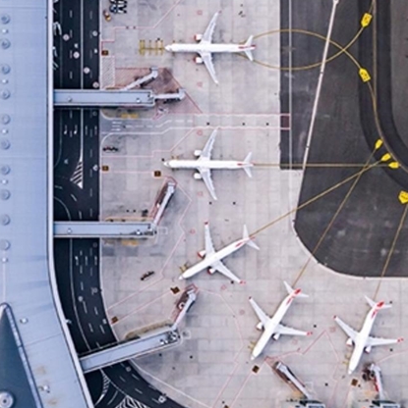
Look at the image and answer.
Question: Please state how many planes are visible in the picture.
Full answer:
My tally gives 5 planes in this view.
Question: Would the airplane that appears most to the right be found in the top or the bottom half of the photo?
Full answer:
It is in the bottom half that the airplane that appears most to the right appears.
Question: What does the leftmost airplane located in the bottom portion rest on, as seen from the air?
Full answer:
You can see the leftmost airplane located in the bottom portion positioned on the apron.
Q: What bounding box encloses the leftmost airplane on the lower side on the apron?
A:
[180,220,259,283]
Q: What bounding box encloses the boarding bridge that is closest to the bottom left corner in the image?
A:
[170,291,194,327]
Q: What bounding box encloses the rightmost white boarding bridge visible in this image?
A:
[366,362,387,401]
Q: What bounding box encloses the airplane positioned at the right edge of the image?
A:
[335,299,404,375]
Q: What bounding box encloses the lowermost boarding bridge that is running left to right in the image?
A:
[155,88,187,103]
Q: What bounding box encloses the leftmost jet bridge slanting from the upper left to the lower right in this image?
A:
[274,361,312,400]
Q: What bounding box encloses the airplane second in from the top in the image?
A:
[164,132,254,197]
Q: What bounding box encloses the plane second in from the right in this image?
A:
[248,283,312,360]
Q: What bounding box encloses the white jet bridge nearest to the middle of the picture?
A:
[153,182,175,228]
